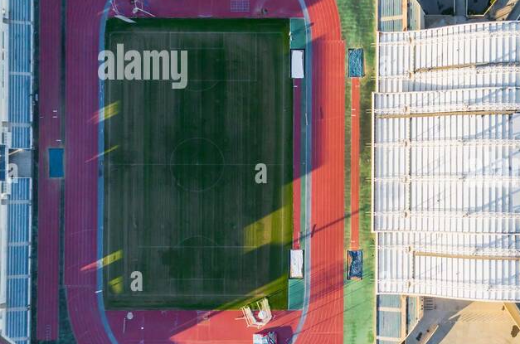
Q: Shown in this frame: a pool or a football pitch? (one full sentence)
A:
The one in the frame is a football pitch.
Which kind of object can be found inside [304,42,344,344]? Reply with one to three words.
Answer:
running track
